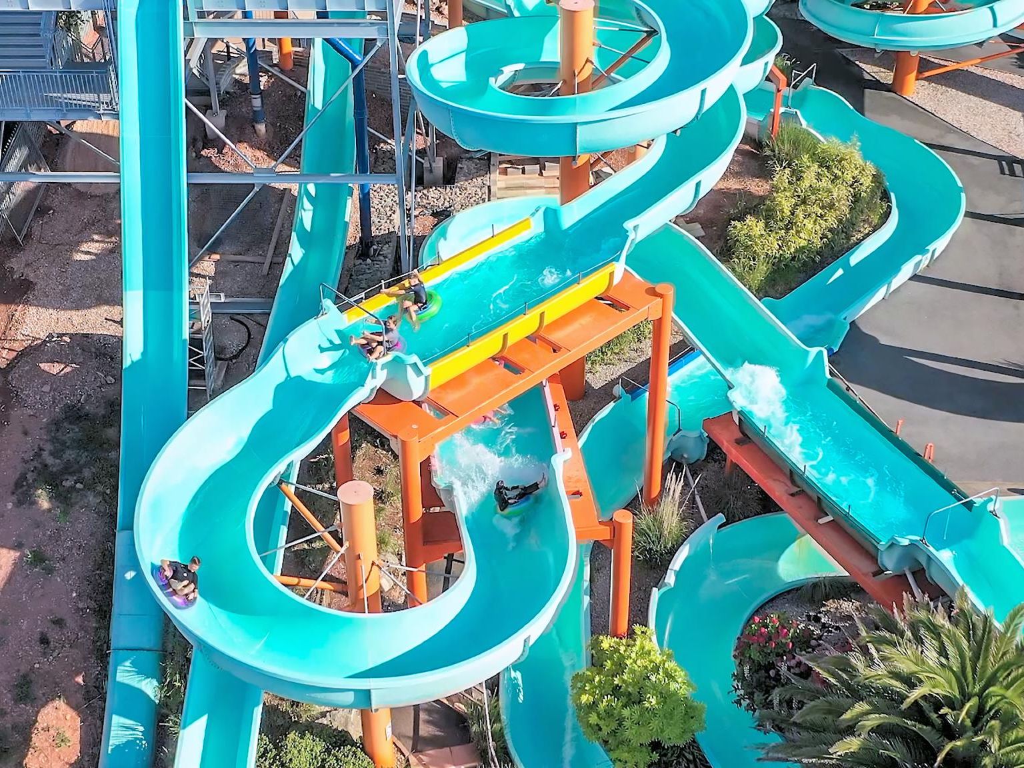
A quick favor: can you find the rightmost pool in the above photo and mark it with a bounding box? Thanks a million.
[735,378,981,565]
